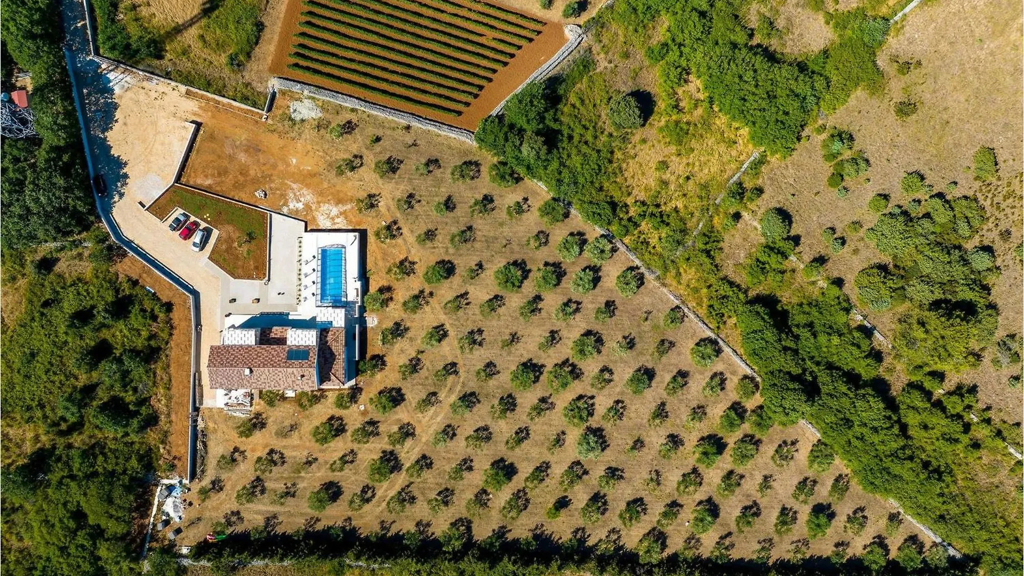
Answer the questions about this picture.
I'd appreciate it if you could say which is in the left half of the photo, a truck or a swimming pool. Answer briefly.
swimming pool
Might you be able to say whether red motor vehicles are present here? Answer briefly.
Yes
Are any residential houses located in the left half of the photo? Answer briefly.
Yes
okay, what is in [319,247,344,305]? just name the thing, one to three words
swimming pool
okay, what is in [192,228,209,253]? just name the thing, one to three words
car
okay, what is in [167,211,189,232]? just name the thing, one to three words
car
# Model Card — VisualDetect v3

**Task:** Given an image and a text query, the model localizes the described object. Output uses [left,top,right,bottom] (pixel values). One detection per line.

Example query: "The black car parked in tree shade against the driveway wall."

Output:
[93,173,109,198]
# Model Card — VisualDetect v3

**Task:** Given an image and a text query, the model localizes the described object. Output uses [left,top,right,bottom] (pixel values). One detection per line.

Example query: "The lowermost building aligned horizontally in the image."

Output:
[206,327,351,390]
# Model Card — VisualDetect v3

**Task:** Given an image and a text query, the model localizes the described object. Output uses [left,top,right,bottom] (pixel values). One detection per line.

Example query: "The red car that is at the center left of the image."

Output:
[178,220,200,240]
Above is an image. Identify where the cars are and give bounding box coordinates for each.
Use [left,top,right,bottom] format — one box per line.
[178,220,200,240]
[93,173,109,198]
[167,211,189,232]
[192,228,209,253]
